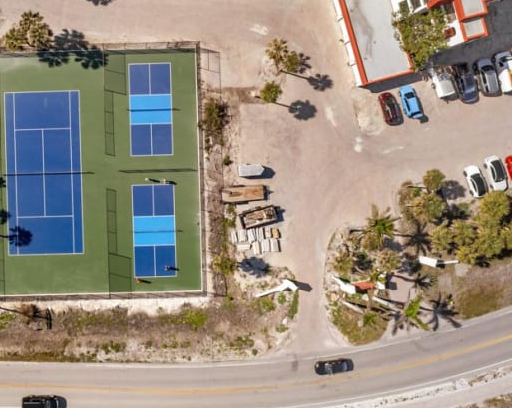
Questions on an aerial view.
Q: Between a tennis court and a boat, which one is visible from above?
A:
tennis court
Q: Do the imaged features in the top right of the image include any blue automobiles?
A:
Yes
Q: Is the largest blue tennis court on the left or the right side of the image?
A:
left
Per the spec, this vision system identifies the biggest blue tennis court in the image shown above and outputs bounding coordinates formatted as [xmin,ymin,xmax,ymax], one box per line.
[4,91,88,256]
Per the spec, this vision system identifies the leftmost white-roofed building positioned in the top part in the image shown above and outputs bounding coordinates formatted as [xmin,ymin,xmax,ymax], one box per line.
[326,0,415,86]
